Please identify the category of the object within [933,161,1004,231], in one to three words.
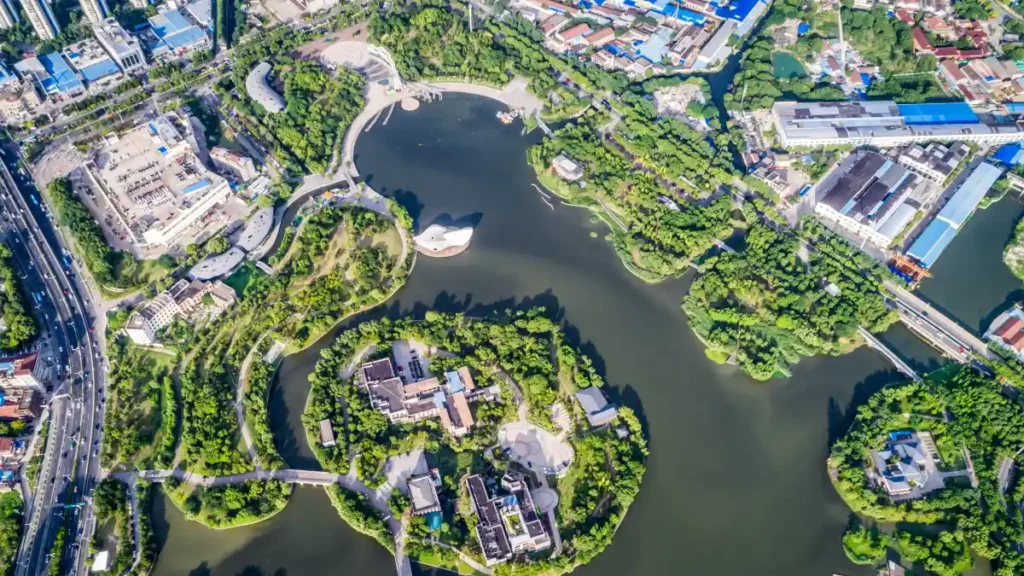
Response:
shed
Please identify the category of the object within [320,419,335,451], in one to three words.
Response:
house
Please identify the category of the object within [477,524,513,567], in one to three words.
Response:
building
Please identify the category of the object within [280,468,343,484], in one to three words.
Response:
bridge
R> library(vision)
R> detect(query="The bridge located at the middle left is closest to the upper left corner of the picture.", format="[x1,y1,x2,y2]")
[0,155,87,334]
